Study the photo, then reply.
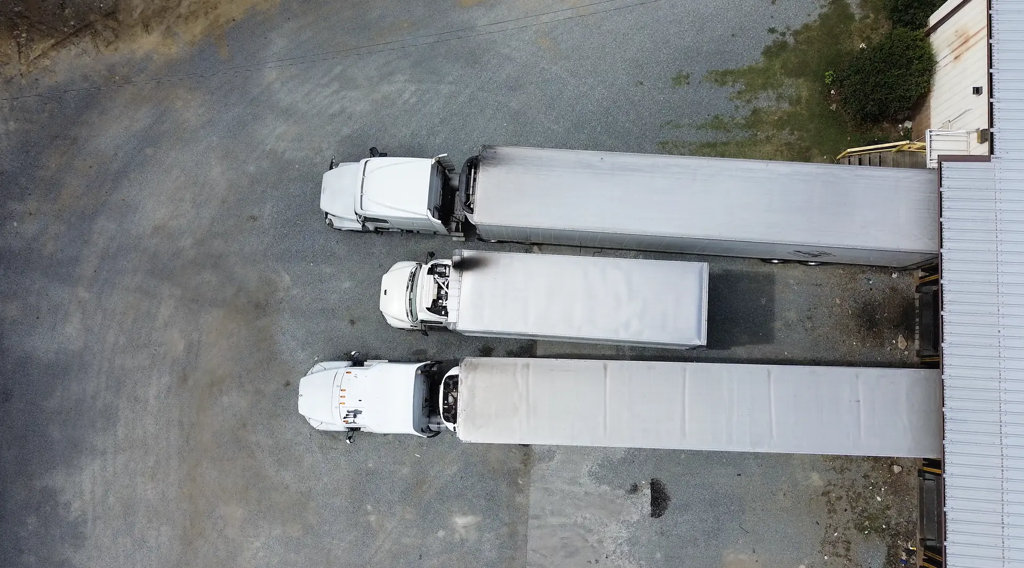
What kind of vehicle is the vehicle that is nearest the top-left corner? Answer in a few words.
truck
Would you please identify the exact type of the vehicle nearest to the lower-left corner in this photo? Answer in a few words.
truck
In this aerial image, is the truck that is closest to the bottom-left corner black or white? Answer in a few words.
white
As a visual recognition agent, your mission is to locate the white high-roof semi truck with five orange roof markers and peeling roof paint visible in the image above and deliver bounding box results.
[298,350,451,445]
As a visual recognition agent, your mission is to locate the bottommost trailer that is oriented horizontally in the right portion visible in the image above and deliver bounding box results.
[440,356,943,458]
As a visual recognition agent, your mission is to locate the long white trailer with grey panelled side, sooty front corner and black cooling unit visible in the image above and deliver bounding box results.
[457,145,940,268]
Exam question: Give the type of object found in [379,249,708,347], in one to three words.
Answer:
truck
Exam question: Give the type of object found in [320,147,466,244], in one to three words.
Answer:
truck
